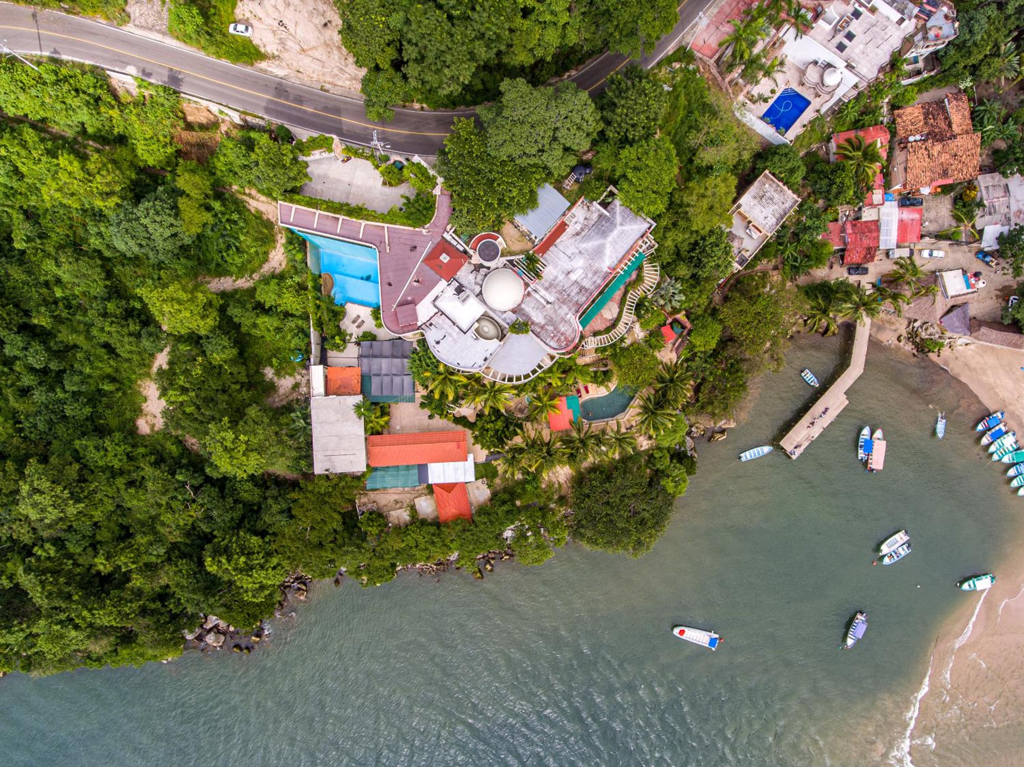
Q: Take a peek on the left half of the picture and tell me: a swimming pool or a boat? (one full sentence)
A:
There is a swimming pool on the left half of the picture.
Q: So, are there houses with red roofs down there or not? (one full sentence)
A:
Yes, looking at the shot, I can spot a house with a red roof.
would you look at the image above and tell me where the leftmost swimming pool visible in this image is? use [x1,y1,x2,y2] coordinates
[285,227,416,345]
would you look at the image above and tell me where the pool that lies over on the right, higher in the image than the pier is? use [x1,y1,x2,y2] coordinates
[761,87,813,136]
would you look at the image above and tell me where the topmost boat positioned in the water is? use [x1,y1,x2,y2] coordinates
[800,368,820,387]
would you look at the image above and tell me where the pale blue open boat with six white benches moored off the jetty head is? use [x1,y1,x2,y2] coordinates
[737,447,774,463]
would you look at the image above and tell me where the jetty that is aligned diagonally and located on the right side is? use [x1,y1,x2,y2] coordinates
[778,316,871,459]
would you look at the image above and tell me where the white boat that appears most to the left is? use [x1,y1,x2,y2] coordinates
[673,628,719,650]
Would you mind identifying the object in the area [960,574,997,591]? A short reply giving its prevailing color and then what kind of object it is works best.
white boat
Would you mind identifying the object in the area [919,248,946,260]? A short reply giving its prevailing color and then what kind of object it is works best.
white vehicle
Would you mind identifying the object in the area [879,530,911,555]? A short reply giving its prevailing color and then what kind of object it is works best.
white boat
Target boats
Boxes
[979,423,1009,445]
[857,426,874,462]
[1000,450,1024,464]
[882,544,913,564]
[1005,463,1024,477]
[936,414,946,439]
[991,440,1021,461]
[879,530,911,555]
[800,368,820,387]
[866,427,888,473]
[975,409,1006,431]
[960,574,997,591]
[846,611,868,649]
[673,628,719,650]
[737,447,774,463]
[1009,474,1024,488]
[988,430,1018,453]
